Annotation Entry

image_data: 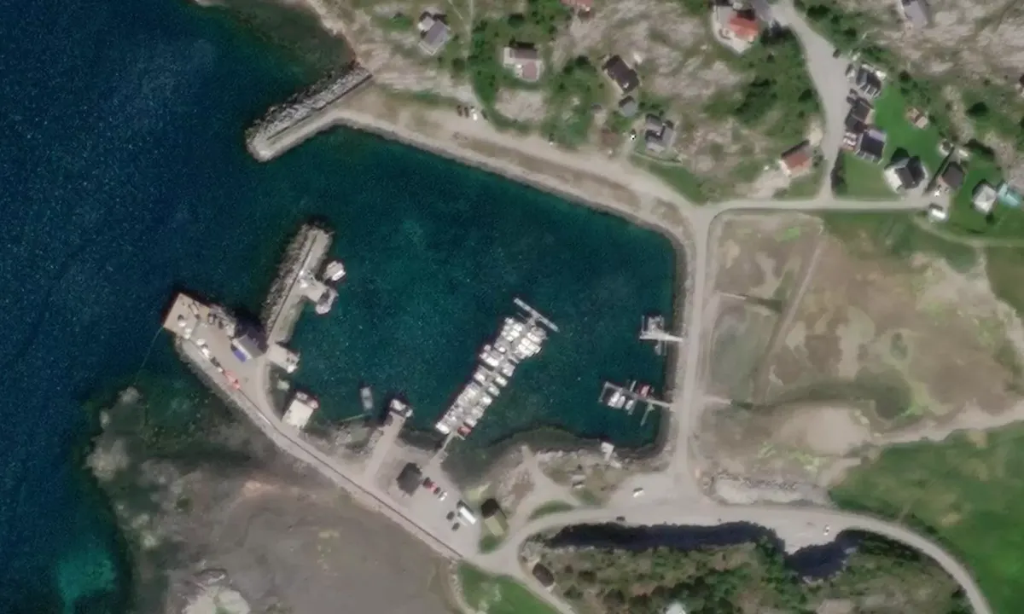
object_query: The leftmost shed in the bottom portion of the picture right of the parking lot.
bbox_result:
[481,508,507,537]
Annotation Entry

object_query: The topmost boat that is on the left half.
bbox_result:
[322,265,340,280]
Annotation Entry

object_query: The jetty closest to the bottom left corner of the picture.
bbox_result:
[164,293,209,338]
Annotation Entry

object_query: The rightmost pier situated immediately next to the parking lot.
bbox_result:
[452,315,536,439]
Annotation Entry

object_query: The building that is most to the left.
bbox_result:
[235,324,271,360]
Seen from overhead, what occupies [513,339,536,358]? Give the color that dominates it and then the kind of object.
white boat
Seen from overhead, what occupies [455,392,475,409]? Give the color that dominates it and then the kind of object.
white boat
